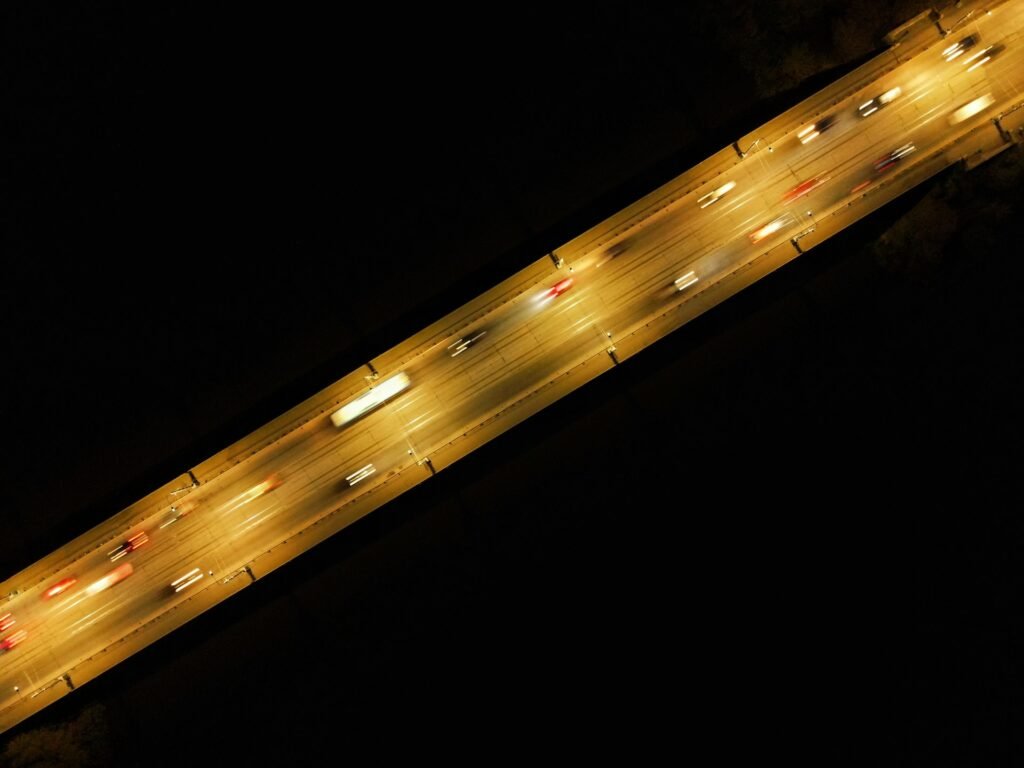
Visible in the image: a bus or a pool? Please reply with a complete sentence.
Visible in the photo is a bus.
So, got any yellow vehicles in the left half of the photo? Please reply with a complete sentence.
Yes, in the left half of the photo there is a yellow vehicle.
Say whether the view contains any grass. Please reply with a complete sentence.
No, no grass is visible.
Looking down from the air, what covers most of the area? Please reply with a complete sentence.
The scene is dominated by water.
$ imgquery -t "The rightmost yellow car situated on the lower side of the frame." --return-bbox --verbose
[249,479,273,498]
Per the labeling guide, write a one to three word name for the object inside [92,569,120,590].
car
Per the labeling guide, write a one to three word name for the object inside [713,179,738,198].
car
